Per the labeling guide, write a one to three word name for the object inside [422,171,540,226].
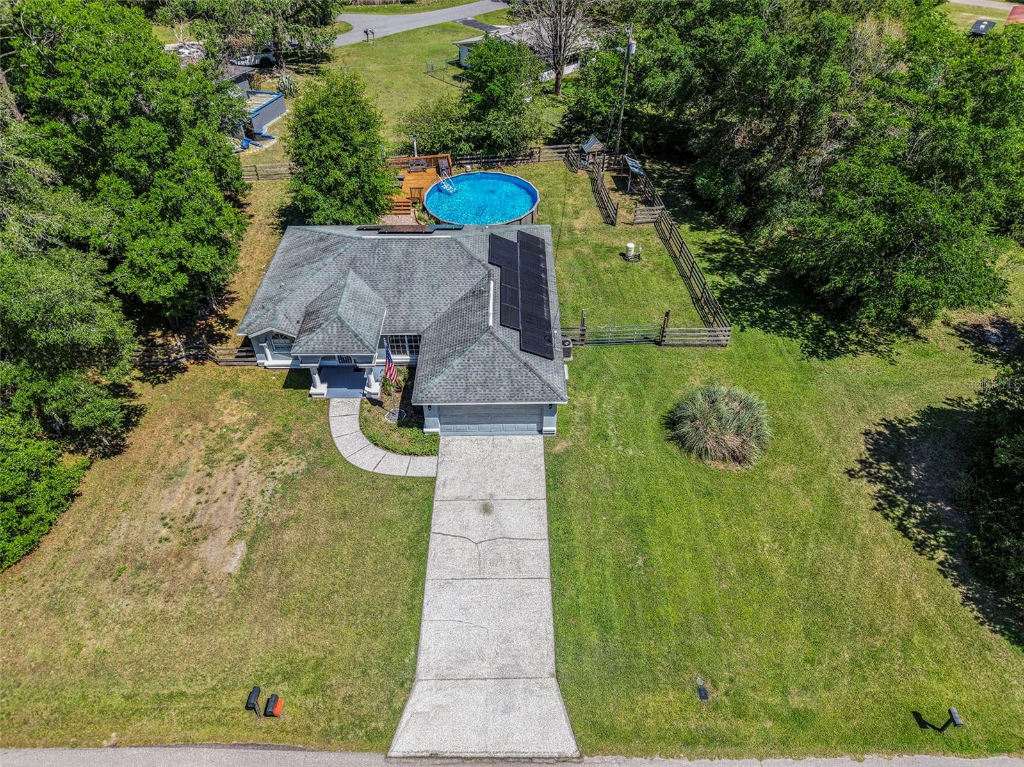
swimming pool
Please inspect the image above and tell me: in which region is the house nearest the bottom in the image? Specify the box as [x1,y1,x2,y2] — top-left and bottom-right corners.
[238,224,567,436]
